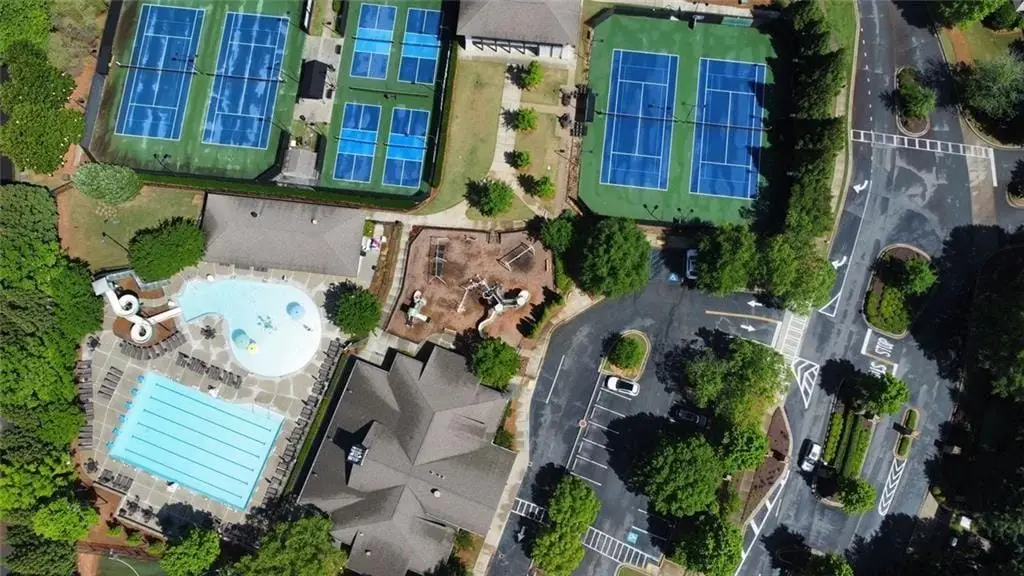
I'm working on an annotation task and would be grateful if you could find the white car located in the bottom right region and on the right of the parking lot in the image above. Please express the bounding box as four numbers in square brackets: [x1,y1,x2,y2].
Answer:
[799,441,823,474]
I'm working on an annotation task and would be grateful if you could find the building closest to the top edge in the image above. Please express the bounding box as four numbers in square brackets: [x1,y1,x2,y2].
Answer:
[456,0,577,61]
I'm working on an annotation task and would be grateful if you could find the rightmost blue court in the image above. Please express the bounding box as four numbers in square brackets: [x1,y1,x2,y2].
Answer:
[689,57,770,200]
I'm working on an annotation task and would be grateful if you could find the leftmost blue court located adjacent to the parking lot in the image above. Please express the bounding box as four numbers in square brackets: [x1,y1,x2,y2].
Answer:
[599,49,680,191]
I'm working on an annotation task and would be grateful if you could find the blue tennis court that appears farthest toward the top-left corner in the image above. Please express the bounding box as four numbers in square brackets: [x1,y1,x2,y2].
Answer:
[114,4,205,141]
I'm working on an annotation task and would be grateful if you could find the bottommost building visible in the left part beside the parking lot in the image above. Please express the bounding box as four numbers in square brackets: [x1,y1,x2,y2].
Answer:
[296,344,517,576]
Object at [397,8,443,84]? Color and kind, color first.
blue sports court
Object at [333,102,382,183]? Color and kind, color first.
blue sports court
